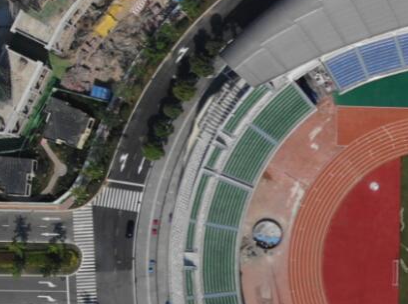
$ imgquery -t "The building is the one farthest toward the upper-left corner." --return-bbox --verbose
[43,97,105,151]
